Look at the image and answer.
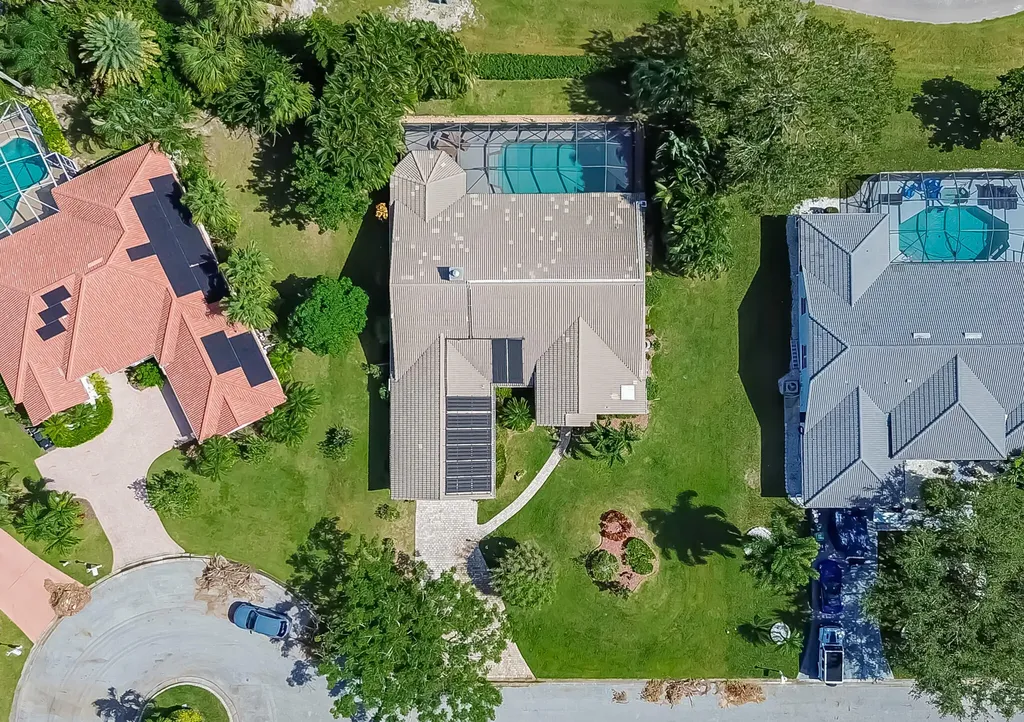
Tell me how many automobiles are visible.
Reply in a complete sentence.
There are 4 automobiles in the image.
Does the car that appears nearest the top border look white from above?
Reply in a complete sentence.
No, from above the car that appears nearest the top border looks black.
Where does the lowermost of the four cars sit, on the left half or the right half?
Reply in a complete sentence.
It is on the right.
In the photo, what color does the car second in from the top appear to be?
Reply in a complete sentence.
The car second in from the top is black.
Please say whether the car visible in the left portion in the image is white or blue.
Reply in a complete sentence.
From above, the car visible in the left portion appears blue.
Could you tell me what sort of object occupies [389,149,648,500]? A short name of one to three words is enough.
house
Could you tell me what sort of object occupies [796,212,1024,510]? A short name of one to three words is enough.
house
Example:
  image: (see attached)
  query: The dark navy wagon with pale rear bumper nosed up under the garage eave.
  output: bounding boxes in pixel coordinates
[835,509,871,560]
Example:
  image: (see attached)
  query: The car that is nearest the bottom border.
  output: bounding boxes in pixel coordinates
[810,621,843,686]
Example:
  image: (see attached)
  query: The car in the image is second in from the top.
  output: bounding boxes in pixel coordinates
[814,554,845,612]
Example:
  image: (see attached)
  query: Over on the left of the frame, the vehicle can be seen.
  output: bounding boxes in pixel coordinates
[229,599,293,640]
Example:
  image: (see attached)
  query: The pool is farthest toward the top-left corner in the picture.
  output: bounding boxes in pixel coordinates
[0,134,49,234]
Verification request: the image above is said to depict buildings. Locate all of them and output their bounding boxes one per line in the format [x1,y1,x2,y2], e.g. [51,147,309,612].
[389,149,648,500]
[796,212,1024,510]
[0,142,288,443]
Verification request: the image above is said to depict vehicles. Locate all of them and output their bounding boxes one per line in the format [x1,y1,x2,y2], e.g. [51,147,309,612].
[814,554,845,612]
[835,509,871,560]
[810,621,843,686]
[229,599,293,640]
